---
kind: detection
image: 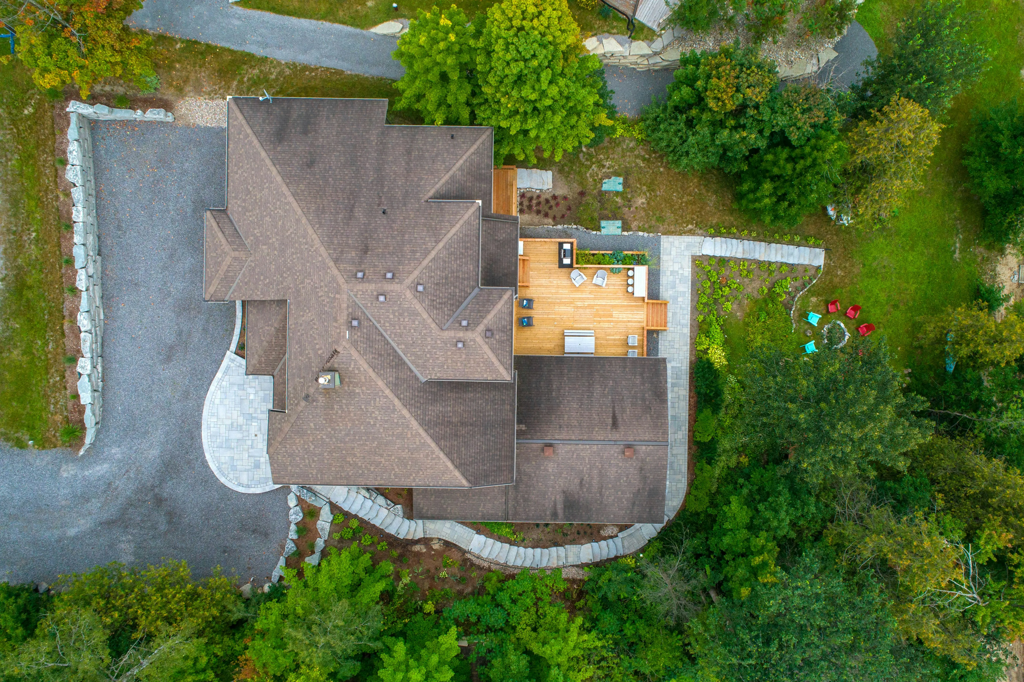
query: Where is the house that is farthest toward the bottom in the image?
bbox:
[201,94,669,526]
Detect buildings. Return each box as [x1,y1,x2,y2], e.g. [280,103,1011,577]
[603,0,639,18]
[201,94,669,526]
